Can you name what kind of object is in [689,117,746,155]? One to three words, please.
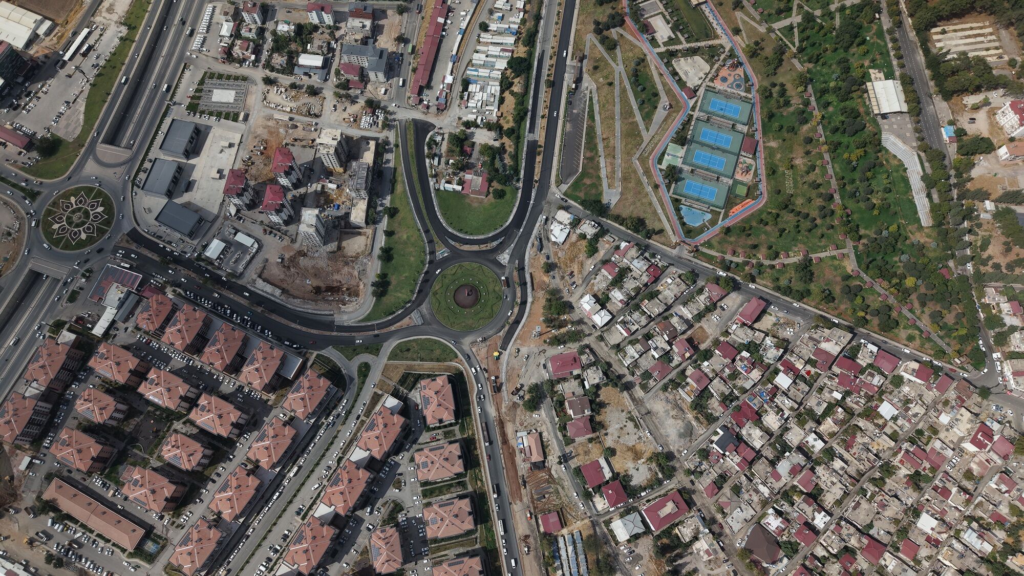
tennis court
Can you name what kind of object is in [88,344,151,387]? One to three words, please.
building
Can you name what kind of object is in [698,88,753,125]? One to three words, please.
tennis court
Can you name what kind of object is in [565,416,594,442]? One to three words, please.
house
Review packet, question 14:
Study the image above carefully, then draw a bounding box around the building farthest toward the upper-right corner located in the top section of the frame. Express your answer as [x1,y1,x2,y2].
[986,97,1024,139]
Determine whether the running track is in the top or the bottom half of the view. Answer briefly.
top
